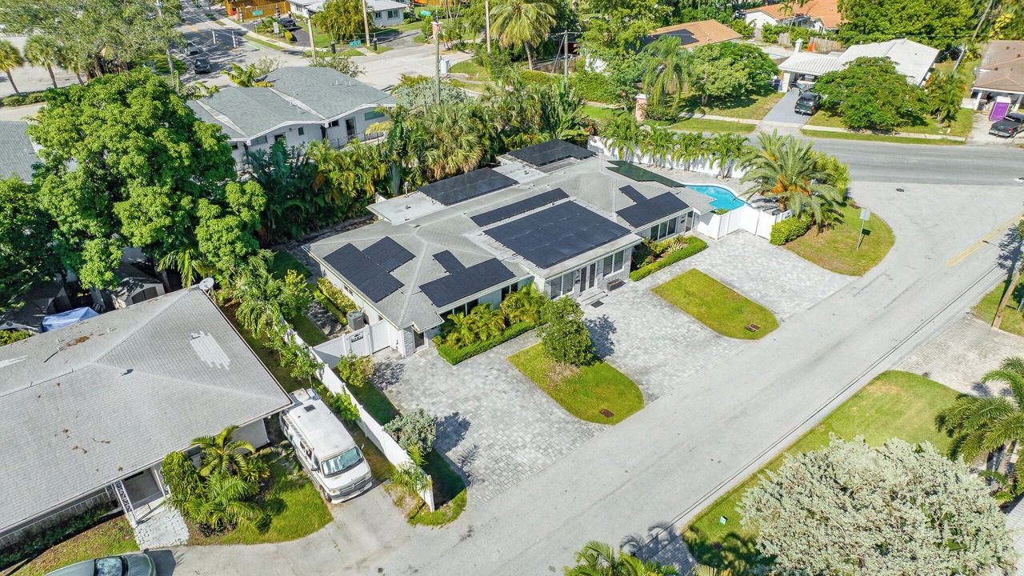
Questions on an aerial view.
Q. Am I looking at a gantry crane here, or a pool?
pool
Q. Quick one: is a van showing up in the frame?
Yes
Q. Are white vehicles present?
Yes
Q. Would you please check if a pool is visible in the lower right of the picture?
No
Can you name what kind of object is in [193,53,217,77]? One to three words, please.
car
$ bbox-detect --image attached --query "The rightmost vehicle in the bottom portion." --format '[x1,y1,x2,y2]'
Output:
[274,382,367,496]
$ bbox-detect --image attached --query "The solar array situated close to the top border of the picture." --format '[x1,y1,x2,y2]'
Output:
[653,25,702,49]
